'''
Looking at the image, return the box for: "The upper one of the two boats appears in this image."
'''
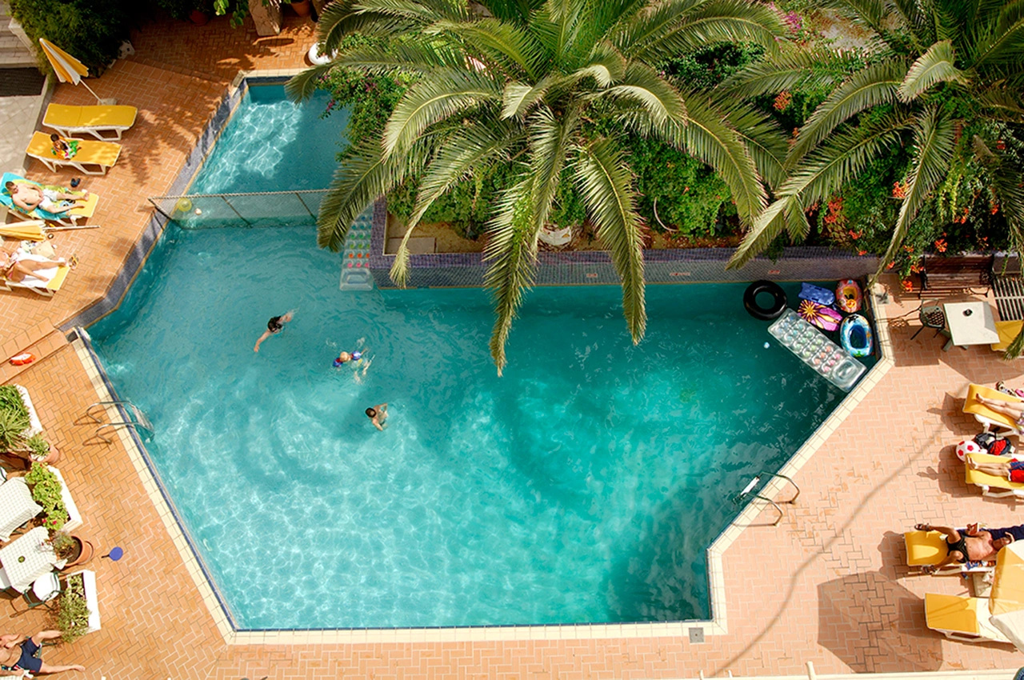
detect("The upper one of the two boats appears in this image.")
[836,282,863,311]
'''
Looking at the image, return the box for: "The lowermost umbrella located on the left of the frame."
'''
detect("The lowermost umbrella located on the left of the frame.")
[0,220,99,243]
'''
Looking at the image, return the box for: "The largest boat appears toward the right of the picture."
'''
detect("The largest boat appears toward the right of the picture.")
[840,314,875,356]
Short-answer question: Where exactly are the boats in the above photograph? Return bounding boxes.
[836,282,863,311]
[840,314,875,356]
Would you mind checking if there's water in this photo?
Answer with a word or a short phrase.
Yes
